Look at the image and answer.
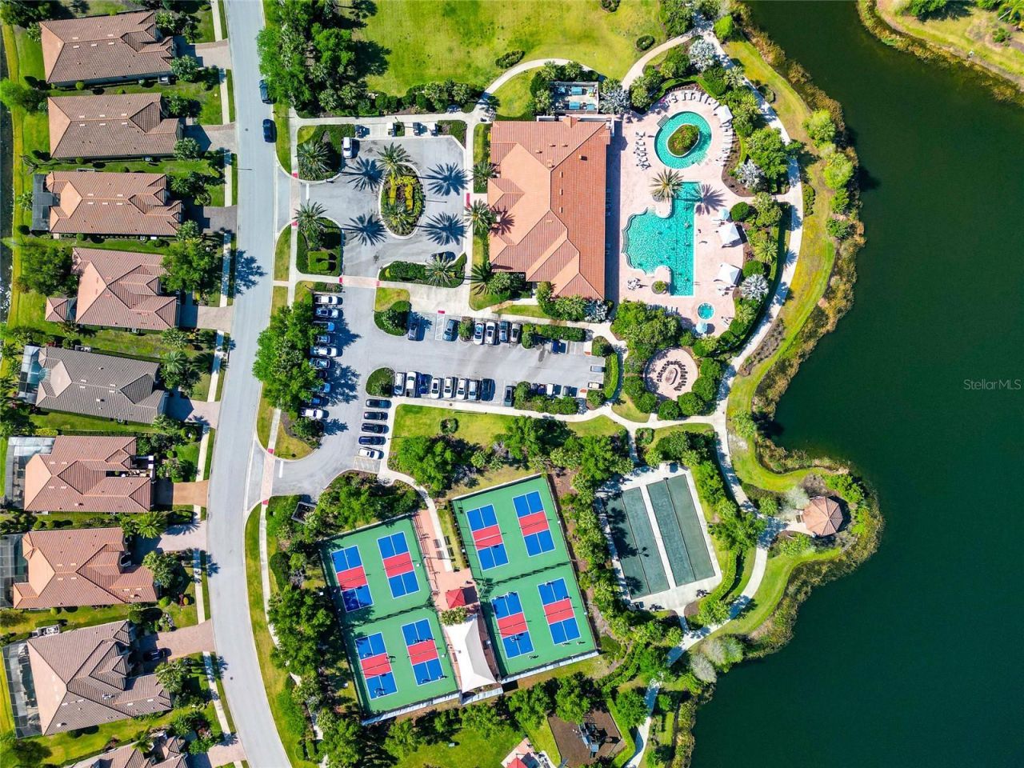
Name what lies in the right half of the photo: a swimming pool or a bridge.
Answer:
swimming pool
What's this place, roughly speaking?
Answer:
residential area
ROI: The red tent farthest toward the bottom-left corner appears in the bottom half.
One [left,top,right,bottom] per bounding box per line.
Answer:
[445,585,467,610]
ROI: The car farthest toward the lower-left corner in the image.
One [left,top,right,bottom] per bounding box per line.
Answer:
[144,647,167,660]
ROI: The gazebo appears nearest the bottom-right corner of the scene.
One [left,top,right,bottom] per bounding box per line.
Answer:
[798,497,842,536]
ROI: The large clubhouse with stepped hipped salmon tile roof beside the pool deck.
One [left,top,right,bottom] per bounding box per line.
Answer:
[487,112,613,300]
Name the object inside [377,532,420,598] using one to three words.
sports court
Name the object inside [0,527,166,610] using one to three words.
house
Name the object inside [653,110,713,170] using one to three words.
swimming pool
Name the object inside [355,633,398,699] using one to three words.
sports court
